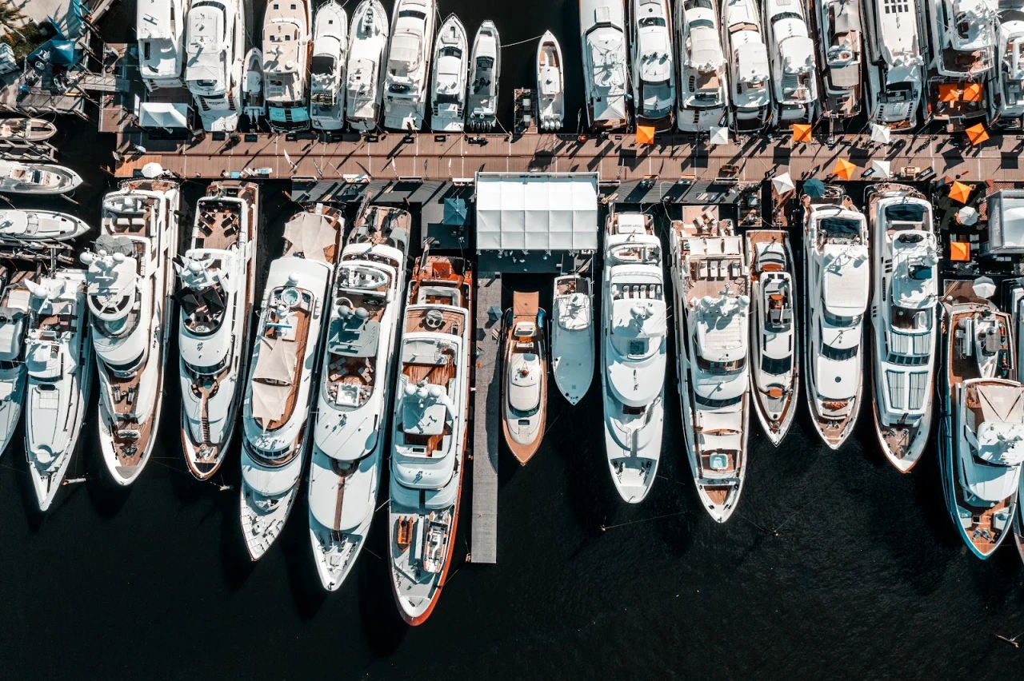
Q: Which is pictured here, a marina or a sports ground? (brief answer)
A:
marina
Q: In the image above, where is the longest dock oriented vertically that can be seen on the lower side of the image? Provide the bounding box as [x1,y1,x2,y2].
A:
[471,273,502,564]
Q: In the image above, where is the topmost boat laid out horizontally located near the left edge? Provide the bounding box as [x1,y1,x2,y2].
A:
[0,119,58,143]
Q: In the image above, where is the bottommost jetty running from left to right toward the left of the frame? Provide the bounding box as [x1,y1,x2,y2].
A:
[292,178,477,250]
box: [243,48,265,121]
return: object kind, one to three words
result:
boat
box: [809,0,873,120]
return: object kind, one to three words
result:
boat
